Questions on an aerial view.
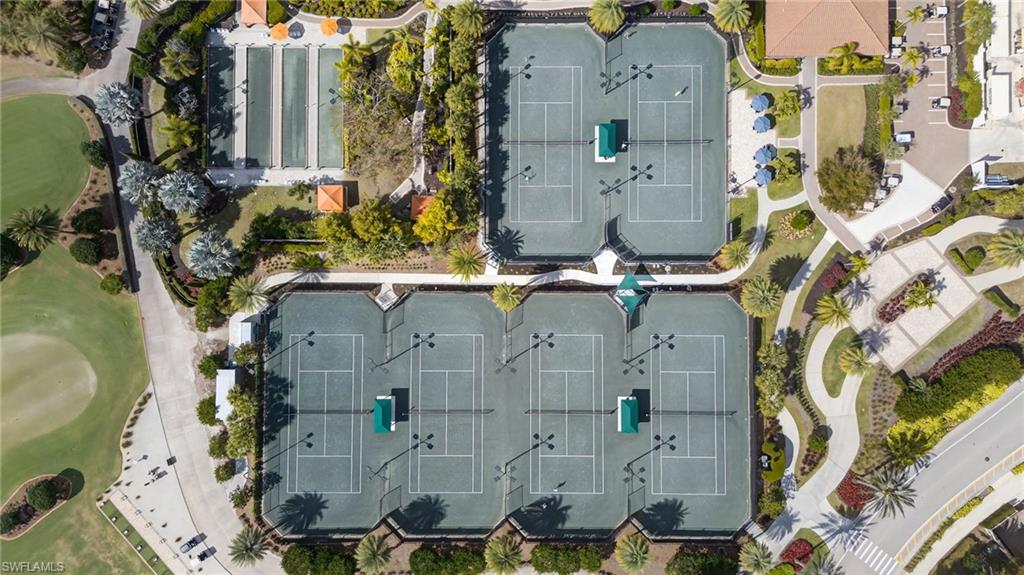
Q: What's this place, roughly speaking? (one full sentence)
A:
The area seen from above is a sports ground.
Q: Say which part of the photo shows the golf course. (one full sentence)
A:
The golf course is located in the left region of the scene.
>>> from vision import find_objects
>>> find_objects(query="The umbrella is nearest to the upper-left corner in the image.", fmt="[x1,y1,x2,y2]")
[272,24,289,41]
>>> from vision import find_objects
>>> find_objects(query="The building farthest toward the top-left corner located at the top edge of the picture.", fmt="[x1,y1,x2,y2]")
[242,0,273,29]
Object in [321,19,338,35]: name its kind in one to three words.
umbrella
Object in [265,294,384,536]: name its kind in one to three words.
tennis court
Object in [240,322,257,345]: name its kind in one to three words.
shed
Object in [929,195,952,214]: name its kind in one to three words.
car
